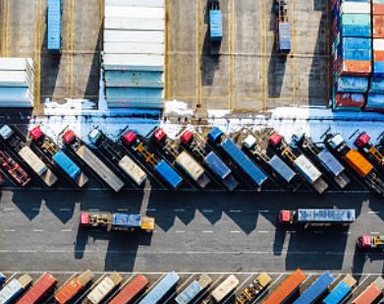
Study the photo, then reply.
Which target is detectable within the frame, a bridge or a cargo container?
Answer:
cargo container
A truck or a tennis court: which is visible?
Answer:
truck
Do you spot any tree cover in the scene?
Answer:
No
